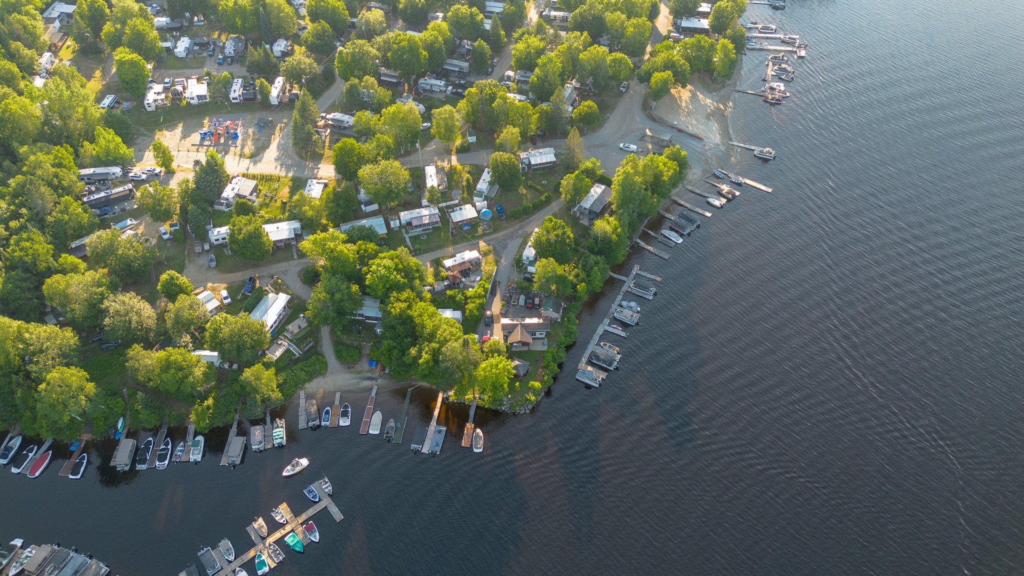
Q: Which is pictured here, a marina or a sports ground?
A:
marina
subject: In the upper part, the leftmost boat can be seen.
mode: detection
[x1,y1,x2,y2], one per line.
[110,217,134,229]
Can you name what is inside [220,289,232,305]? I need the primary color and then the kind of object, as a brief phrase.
white vehicle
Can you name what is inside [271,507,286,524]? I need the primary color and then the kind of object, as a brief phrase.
white boat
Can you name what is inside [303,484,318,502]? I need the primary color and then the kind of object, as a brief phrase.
blue boat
